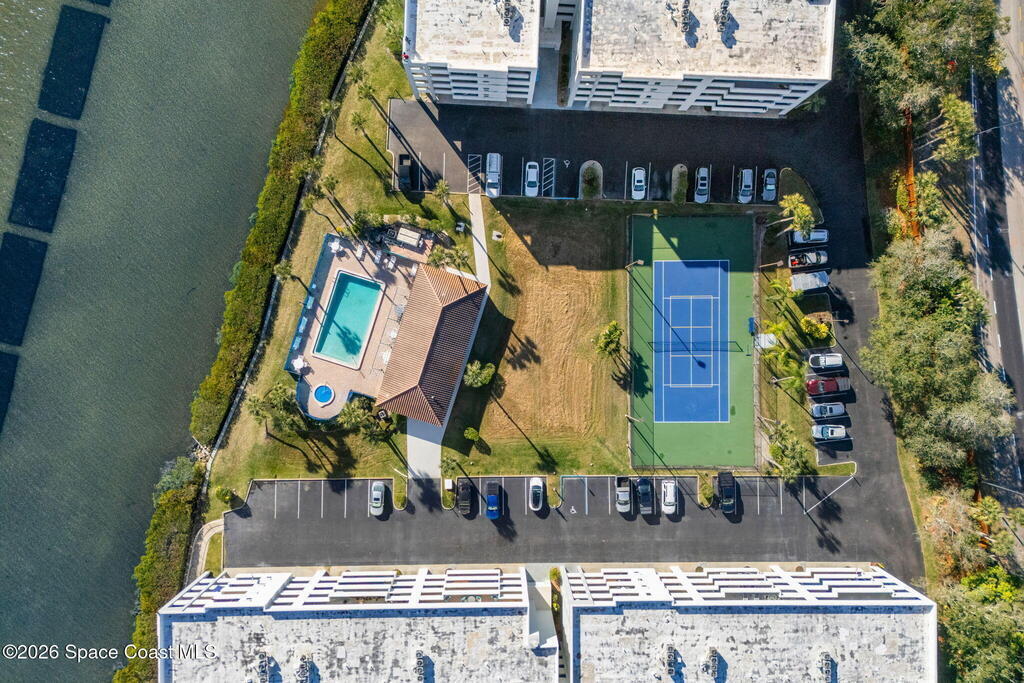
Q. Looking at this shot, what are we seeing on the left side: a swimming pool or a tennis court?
swimming pool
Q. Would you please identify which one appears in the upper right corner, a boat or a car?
car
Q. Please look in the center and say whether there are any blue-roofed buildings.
No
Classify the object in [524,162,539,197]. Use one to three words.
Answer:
car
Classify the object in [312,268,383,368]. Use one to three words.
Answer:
swimming pool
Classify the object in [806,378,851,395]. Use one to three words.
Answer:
vehicle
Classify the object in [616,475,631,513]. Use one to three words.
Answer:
vehicle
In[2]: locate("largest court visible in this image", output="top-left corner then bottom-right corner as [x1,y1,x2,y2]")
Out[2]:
[626,213,764,472]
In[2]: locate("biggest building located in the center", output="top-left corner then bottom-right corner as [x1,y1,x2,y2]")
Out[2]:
[376,263,487,427]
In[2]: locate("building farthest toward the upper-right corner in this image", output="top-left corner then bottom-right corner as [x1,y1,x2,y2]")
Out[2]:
[567,0,836,118]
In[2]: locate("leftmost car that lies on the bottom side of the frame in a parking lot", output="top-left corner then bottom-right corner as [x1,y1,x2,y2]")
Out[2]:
[369,481,385,516]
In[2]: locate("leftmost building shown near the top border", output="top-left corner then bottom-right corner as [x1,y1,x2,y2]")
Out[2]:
[402,0,542,109]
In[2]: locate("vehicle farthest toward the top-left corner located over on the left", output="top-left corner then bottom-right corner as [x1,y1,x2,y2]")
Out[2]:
[397,153,412,191]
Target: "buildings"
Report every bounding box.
[402,0,542,109]
[567,0,836,118]
[397,228,422,246]
[376,263,487,427]
[156,567,530,683]
[560,566,938,683]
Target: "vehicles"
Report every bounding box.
[369,481,385,516]
[792,229,828,245]
[811,424,846,440]
[718,471,736,514]
[457,479,472,513]
[616,475,631,513]
[737,169,754,204]
[787,251,828,268]
[693,168,710,203]
[524,162,539,197]
[806,378,851,395]
[811,402,845,418]
[661,479,677,514]
[485,152,502,198]
[529,477,544,511]
[761,169,777,202]
[397,153,412,191]
[631,167,646,200]
[637,477,653,515]
[485,479,501,520]
[808,353,843,369]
